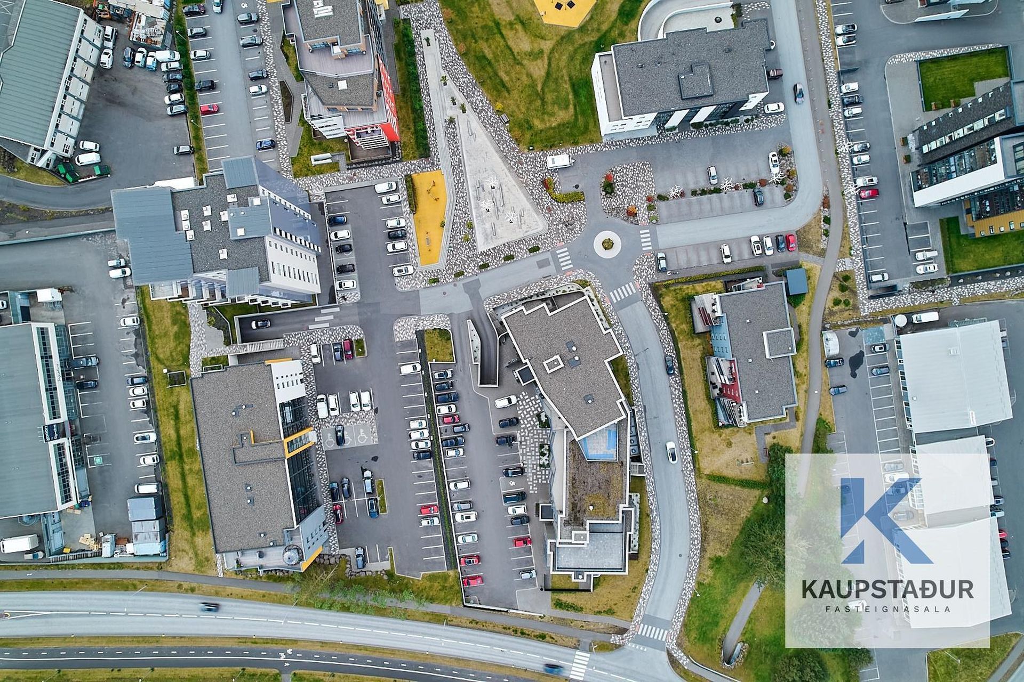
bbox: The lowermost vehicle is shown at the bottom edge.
[544,663,563,675]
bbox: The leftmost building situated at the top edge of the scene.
[0,0,105,168]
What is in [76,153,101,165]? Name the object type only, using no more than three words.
vehicle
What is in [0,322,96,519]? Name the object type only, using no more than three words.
building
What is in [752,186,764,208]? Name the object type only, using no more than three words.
vehicle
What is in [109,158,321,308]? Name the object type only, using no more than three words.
building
